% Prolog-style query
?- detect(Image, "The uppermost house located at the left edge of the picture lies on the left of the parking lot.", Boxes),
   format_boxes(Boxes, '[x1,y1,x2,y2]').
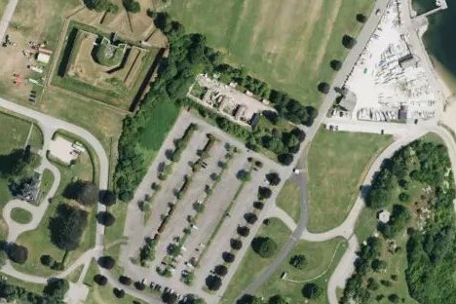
[19,174,40,205]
